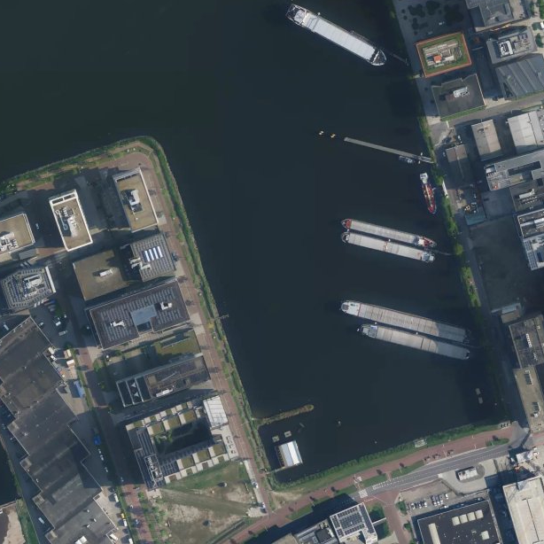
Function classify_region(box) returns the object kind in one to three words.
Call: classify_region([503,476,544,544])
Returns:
building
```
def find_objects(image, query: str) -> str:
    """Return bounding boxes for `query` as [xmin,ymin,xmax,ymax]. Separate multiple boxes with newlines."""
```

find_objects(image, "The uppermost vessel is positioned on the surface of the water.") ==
[288,4,387,63]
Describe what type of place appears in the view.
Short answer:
port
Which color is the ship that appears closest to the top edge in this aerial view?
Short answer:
white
